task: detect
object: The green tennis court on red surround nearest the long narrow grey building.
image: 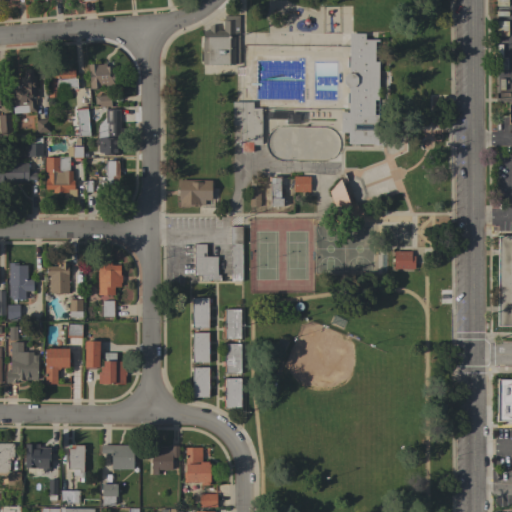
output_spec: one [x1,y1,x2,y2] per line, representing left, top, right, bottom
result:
[250,218,282,292]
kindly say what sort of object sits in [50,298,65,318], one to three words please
swimming pool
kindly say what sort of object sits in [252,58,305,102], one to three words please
swimming pool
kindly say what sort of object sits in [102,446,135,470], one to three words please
house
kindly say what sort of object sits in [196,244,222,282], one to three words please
building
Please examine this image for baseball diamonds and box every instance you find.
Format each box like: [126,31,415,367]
[268,316,424,466]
